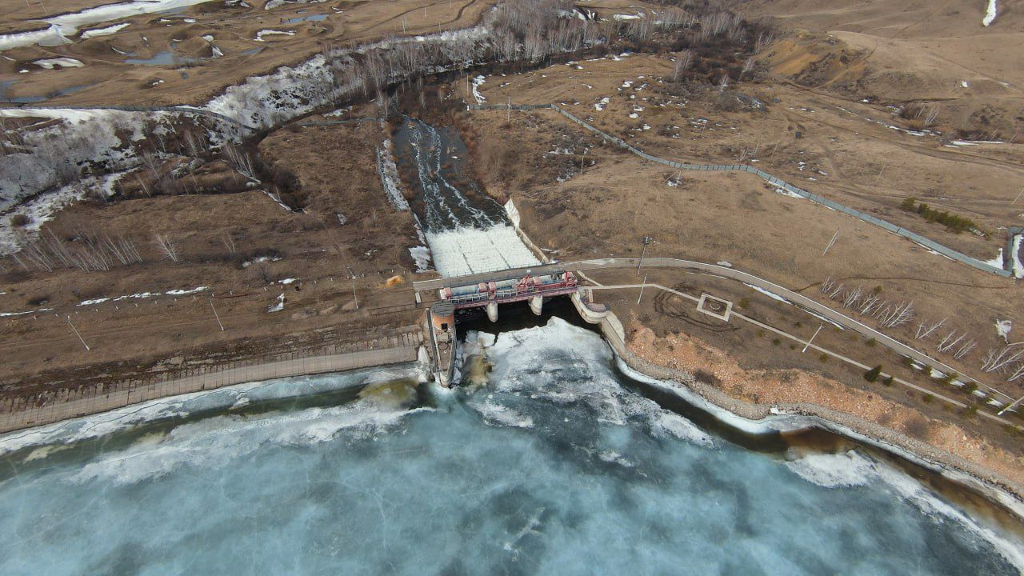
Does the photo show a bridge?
Yes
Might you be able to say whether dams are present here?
Yes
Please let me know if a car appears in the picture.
No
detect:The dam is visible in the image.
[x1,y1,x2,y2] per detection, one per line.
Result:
[414,200,632,365]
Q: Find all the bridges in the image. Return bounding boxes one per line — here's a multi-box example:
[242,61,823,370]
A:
[412,260,588,292]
